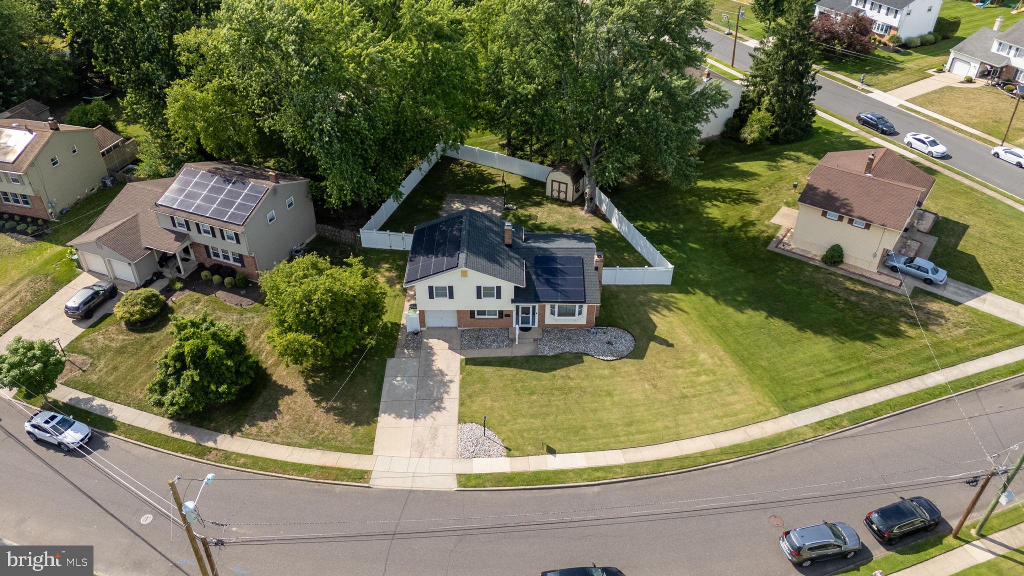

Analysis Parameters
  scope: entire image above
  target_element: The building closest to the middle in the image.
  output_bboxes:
[401,208,607,339]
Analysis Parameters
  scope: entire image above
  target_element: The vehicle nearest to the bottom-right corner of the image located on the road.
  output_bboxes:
[864,493,944,544]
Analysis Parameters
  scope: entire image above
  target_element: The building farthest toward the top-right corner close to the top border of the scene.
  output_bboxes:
[946,14,1024,88]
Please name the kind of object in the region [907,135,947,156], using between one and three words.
car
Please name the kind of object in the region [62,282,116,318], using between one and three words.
car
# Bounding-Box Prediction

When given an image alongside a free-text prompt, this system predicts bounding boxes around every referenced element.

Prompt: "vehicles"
[887,254,949,283]
[994,148,1024,167]
[543,561,625,576]
[62,282,116,318]
[859,113,895,133]
[864,493,944,544]
[907,135,947,156]
[20,407,91,449]
[778,514,865,564]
